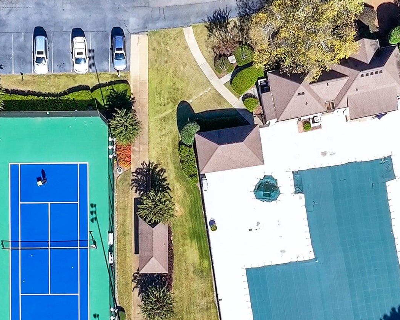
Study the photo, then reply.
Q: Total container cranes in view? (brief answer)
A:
0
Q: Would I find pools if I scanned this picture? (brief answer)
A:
Yes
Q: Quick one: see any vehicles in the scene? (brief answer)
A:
Yes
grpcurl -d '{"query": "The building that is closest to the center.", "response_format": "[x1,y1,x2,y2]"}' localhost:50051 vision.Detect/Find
[196,124,264,175]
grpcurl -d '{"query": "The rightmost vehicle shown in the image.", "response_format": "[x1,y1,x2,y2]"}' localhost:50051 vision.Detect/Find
[112,36,128,68]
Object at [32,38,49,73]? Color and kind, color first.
white car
